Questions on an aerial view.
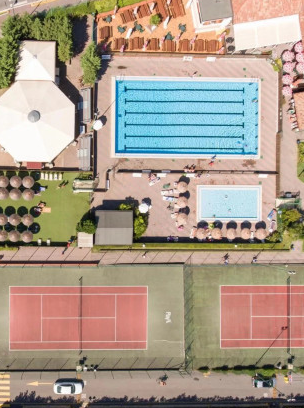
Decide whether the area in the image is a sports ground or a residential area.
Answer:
sports ground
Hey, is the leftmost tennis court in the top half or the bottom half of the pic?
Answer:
bottom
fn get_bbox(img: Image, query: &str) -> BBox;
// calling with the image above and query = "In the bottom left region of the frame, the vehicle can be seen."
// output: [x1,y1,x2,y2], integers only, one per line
[55,382,82,397]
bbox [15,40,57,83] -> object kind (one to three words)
tent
